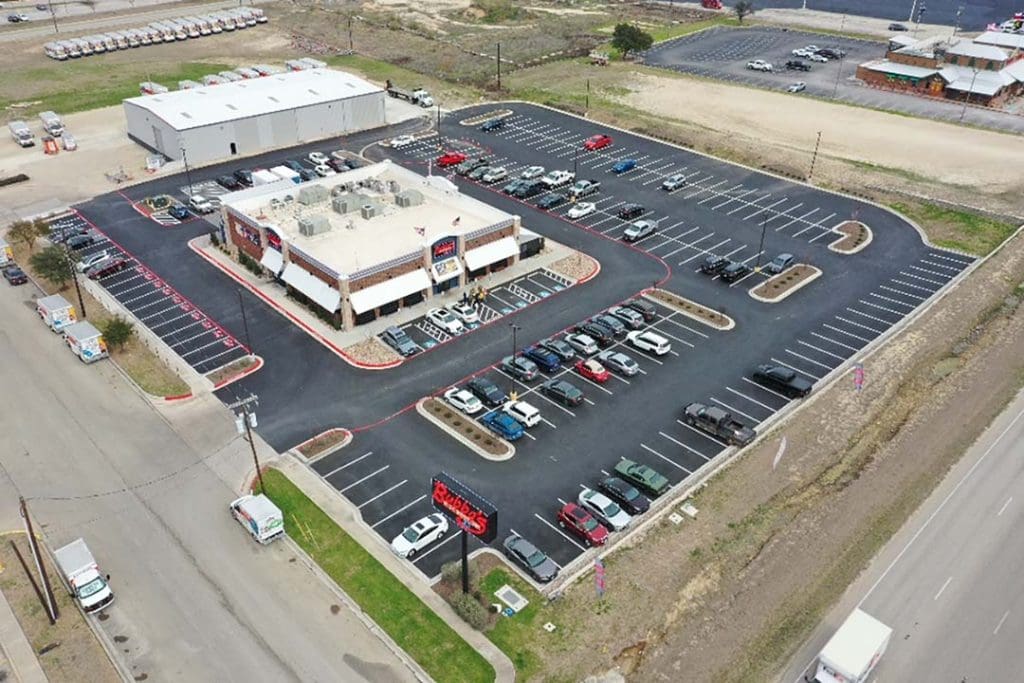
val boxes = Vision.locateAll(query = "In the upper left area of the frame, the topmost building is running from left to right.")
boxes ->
[119,68,388,168]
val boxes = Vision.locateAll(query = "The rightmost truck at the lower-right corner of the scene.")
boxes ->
[810,606,897,683]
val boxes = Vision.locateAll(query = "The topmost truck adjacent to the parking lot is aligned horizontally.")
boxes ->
[386,76,426,100]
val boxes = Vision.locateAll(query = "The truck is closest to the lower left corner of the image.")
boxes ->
[55,531,123,615]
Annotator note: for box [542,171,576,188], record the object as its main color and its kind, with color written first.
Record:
white vehicle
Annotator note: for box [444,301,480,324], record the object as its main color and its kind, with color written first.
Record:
white car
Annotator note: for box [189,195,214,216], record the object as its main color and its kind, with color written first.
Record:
white car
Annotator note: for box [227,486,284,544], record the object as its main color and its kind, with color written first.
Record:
white truck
